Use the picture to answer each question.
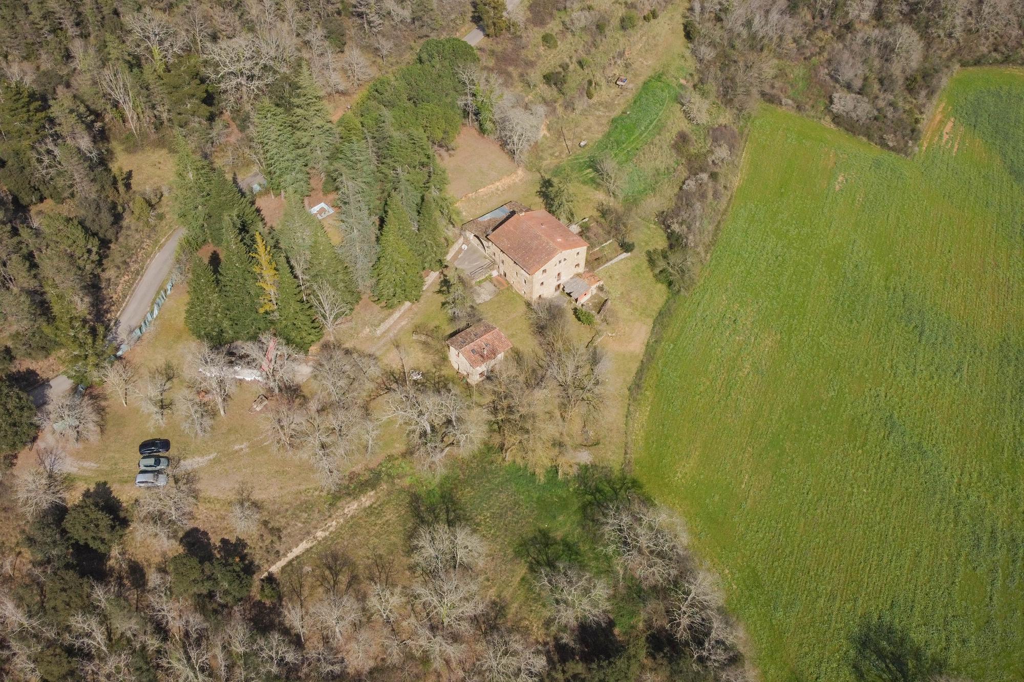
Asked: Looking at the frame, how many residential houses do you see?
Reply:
2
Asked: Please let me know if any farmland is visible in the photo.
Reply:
Yes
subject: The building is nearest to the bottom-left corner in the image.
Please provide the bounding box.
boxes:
[440,323,505,390]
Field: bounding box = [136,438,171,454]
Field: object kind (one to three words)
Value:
car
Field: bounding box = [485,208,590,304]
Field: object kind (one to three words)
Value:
house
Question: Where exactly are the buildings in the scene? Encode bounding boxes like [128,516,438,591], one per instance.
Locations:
[440,323,505,390]
[485,208,590,304]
